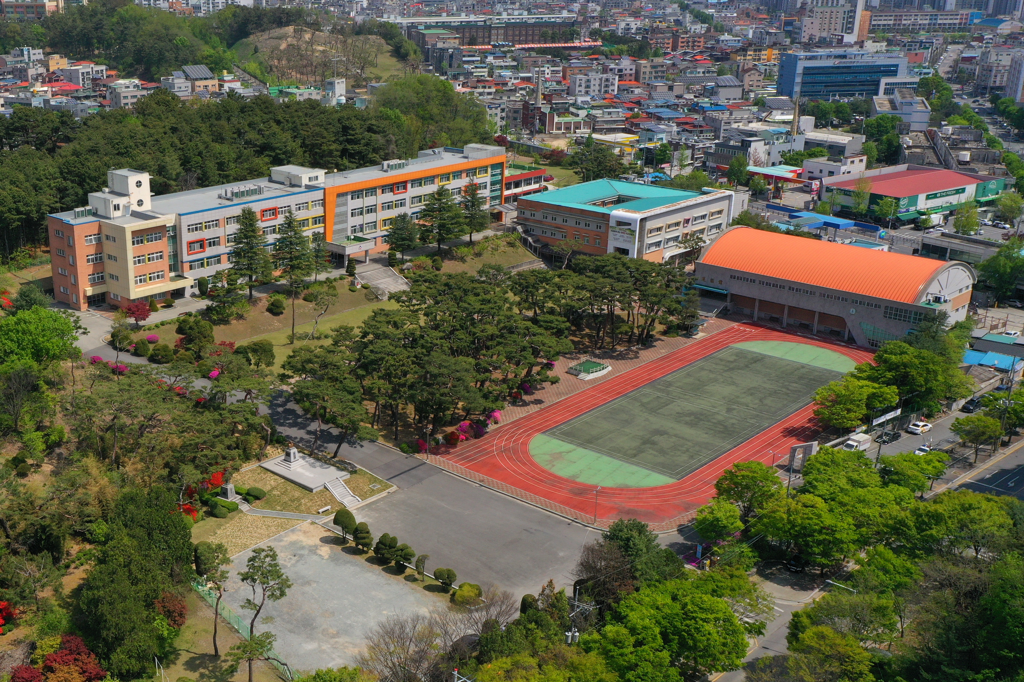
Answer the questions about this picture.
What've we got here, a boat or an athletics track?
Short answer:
athletics track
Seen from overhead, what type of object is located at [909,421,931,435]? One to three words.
car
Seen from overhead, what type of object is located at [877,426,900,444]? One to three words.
car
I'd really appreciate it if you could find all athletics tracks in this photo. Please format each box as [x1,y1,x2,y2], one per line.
[426,320,915,525]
